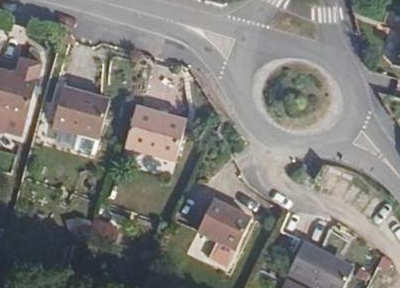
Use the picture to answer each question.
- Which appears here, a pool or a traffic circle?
traffic circle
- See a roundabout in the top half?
Yes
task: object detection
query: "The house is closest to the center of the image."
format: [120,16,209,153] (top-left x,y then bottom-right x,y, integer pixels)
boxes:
[126,105,188,163]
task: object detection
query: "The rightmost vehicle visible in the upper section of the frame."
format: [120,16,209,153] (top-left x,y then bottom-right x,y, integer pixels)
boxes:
[56,12,77,28]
